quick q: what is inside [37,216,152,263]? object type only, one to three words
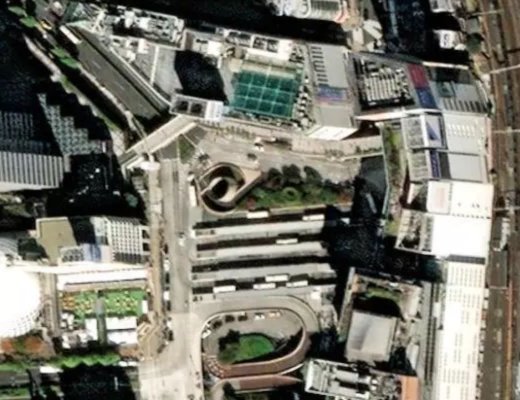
building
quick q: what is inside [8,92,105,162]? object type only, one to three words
building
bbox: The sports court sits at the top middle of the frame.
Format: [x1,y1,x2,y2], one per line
[226,66,299,120]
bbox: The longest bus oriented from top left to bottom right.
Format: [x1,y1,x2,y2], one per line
[59,25,82,45]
